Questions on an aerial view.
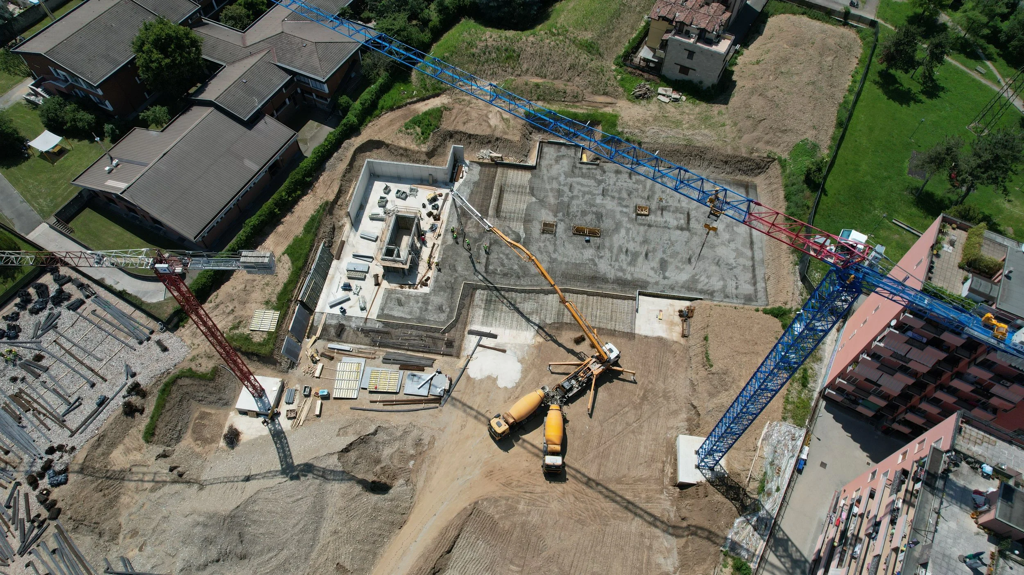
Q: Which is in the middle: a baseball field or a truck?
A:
truck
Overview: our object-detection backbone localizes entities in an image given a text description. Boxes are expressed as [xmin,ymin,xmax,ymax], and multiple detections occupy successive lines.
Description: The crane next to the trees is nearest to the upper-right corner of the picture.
[270,0,1024,470]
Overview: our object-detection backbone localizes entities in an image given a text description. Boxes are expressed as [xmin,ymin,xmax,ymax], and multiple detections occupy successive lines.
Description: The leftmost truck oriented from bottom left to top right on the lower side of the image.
[482,380,555,444]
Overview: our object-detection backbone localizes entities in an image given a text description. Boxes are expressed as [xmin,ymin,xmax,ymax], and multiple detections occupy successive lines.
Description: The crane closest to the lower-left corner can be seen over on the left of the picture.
[0,242,288,402]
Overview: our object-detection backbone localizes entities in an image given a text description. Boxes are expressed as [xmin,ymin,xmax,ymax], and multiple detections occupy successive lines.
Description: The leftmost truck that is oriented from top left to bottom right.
[449,190,636,415]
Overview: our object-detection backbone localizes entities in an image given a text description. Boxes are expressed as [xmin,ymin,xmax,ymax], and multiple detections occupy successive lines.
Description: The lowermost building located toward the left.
[71,105,298,246]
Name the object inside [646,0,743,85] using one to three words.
house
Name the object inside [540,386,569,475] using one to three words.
truck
